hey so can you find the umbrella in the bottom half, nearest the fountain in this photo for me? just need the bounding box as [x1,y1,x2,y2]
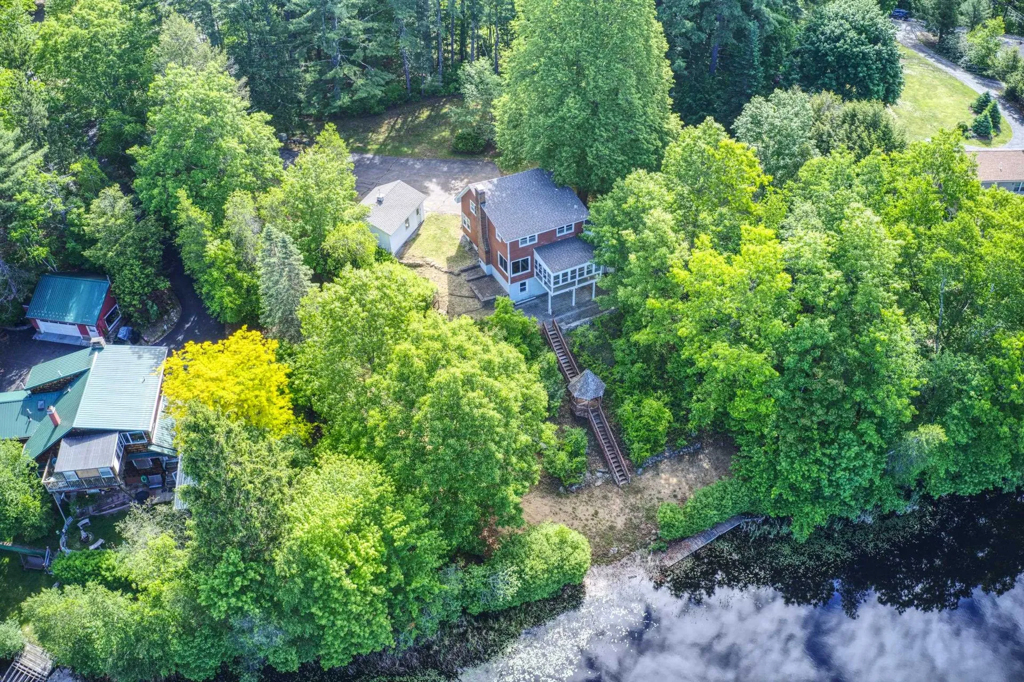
[131,488,152,504]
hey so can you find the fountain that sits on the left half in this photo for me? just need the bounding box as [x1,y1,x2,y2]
[71,525,104,551]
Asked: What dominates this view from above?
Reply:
trees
